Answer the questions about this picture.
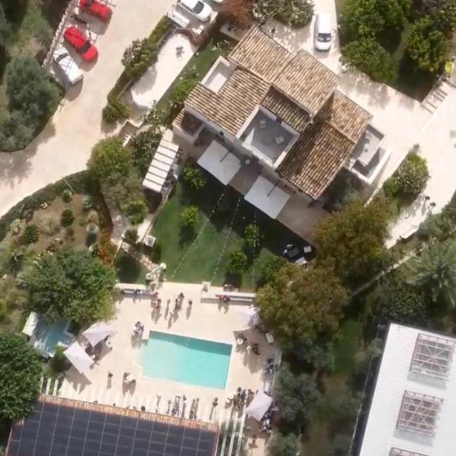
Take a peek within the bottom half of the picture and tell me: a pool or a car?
pool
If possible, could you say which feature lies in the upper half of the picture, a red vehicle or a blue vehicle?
red vehicle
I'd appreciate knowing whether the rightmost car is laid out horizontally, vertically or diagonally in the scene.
vertically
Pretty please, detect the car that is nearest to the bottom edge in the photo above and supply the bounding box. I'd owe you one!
[50,49,85,87]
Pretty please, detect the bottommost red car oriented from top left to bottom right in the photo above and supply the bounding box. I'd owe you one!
[64,27,98,61]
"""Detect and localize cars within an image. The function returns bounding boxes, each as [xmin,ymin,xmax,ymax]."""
[176,0,214,25]
[50,49,85,87]
[313,11,334,53]
[212,0,231,7]
[78,0,114,23]
[64,27,98,61]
